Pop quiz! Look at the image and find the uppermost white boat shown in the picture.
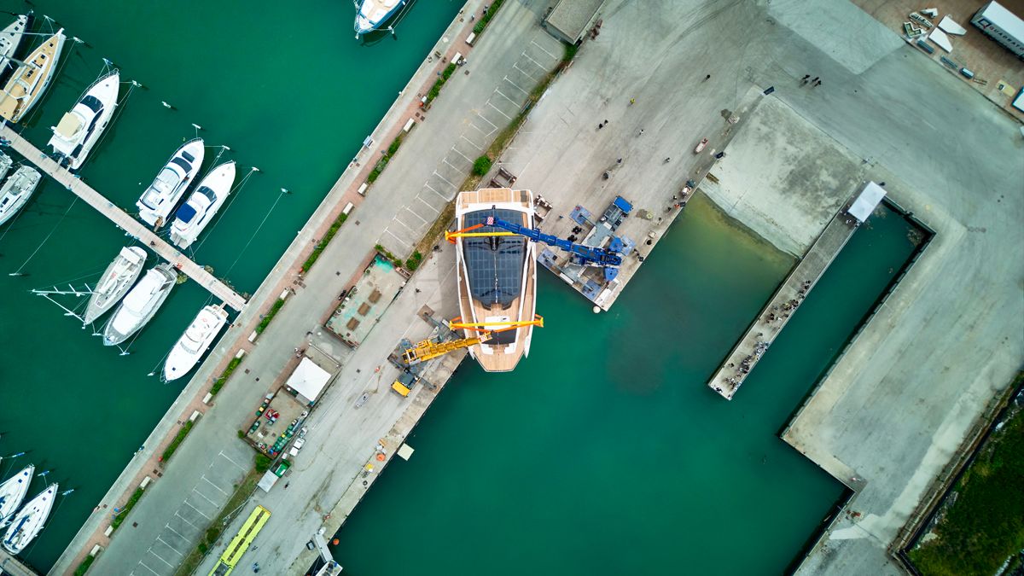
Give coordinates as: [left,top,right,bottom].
[358,0,401,34]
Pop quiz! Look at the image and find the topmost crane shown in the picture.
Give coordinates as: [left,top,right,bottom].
[479,189,641,292]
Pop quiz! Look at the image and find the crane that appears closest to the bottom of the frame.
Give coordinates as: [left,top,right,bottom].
[384,308,496,404]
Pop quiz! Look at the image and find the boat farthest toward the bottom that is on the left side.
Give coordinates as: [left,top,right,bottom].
[316,555,345,576]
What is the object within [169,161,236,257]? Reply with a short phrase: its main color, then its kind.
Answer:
white boat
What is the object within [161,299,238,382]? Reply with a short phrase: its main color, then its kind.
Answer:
white boat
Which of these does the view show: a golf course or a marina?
marina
